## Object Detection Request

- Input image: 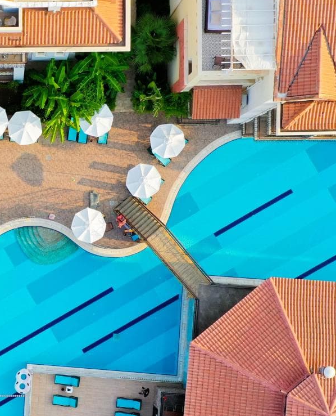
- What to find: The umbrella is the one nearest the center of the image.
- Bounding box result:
[124,164,159,198]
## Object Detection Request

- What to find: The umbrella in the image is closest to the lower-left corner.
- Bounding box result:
[67,207,104,243]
